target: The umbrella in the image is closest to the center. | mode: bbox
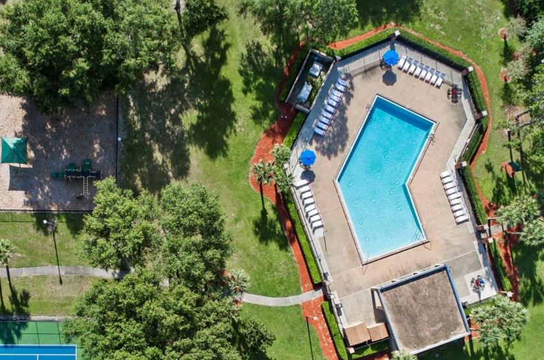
[300,149,316,166]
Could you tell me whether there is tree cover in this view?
Yes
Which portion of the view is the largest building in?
bottom right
